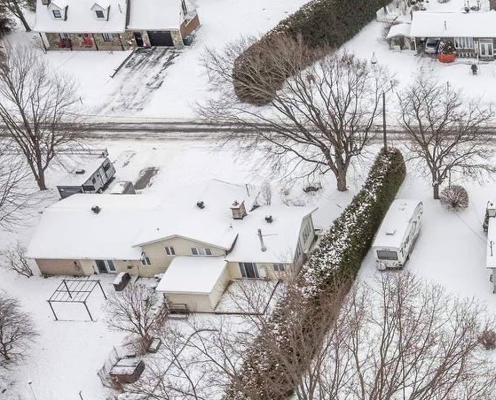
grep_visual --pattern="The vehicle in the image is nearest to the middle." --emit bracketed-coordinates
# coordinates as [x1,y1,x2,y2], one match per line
[115,180,154,195]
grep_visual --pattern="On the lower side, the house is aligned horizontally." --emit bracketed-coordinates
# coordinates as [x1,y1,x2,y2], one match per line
[27,181,338,318]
